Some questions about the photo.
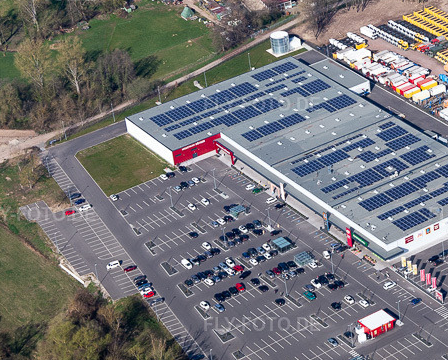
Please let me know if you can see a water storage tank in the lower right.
No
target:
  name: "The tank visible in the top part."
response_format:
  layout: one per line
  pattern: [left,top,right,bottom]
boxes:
[262,33,303,62]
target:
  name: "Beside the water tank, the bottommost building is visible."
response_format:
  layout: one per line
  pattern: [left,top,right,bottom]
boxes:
[125,57,448,263]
